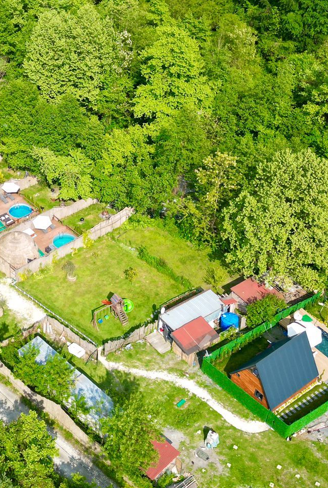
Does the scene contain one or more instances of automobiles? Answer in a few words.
No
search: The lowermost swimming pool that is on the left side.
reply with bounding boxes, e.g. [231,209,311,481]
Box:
[51,230,75,249]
